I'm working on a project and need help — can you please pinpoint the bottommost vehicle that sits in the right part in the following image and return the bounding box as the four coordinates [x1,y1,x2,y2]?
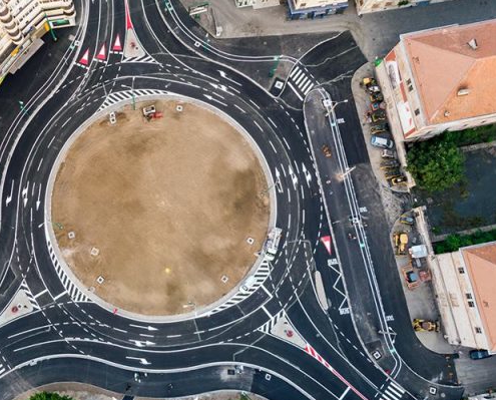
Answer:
[465,349,491,361]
